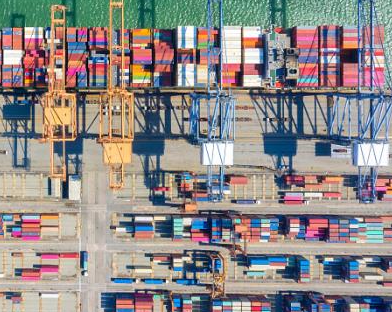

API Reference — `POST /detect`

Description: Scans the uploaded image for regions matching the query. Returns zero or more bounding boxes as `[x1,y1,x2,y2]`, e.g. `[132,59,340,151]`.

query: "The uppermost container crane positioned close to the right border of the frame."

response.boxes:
[302,0,392,203]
